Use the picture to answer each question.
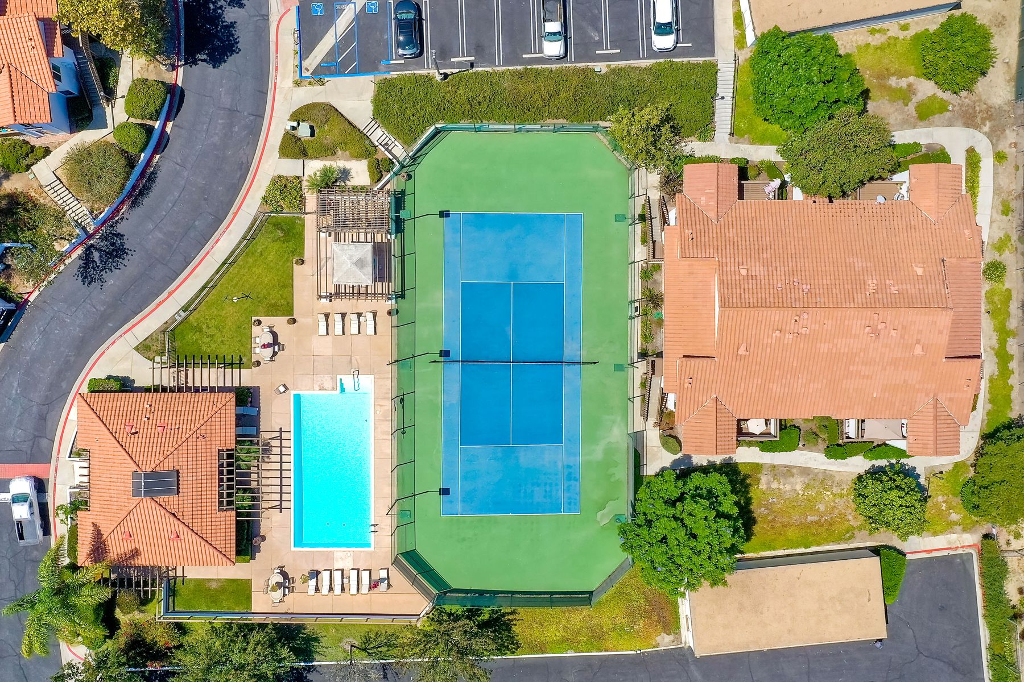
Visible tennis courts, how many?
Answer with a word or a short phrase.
1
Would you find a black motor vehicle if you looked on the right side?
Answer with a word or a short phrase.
No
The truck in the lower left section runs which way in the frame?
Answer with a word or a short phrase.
from top to bottom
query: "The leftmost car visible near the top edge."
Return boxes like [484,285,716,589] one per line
[391,0,422,57]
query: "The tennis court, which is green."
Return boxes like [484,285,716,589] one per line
[398,133,630,593]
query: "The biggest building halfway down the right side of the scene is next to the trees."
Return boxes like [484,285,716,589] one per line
[658,160,984,458]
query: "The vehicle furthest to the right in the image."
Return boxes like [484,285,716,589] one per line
[652,0,683,51]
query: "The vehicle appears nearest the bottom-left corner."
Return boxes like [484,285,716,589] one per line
[5,478,44,551]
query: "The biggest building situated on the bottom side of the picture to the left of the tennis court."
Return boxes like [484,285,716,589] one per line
[75,391,236,568]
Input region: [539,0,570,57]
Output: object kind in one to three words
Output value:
truck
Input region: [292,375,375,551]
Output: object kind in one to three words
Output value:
swimming pool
